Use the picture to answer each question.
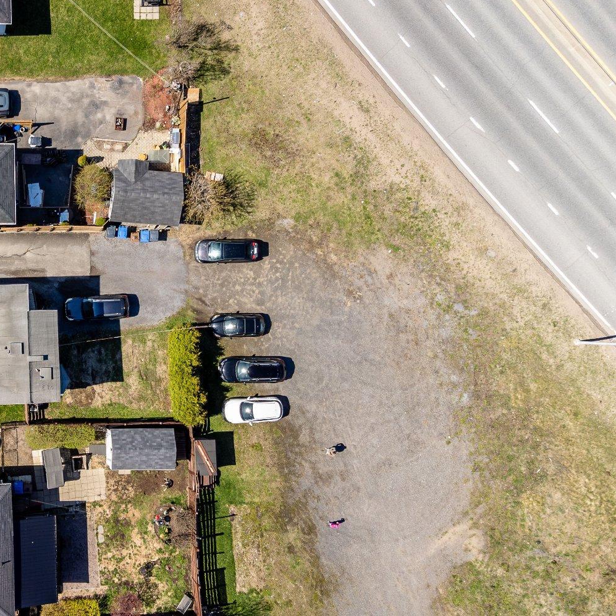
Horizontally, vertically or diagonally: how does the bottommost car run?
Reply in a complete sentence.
The bottommost car is oriented horizontally.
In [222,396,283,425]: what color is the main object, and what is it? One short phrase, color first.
white car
